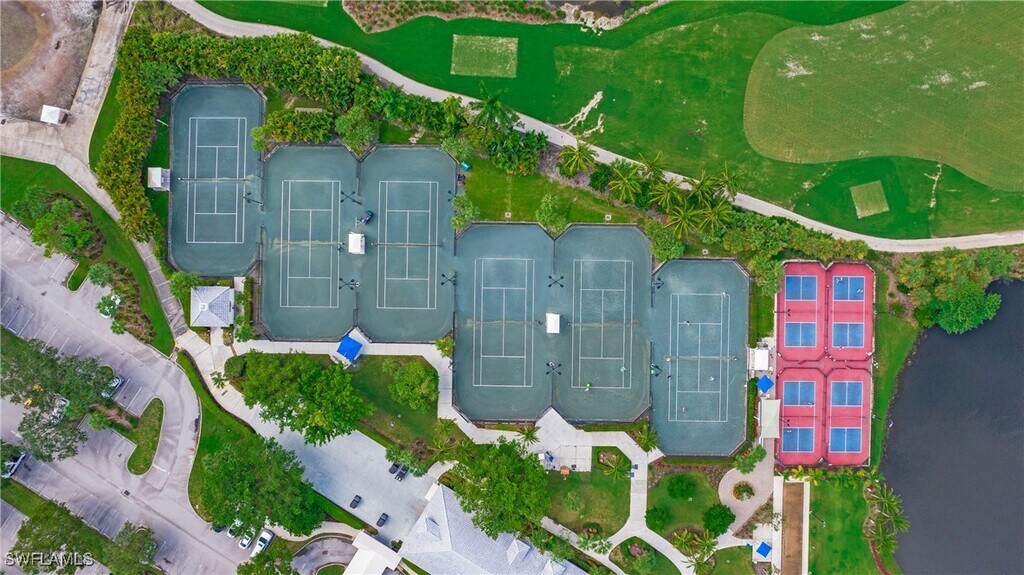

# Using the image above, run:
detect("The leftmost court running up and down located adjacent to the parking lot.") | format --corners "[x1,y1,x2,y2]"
[168,84,263,275]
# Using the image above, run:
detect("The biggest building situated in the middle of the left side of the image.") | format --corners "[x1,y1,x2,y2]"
[190,287,234,327]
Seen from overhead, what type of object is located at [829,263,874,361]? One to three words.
sports court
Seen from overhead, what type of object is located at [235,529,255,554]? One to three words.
car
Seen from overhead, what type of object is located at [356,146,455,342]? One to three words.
tennis court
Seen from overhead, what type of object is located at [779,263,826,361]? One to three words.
sports court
